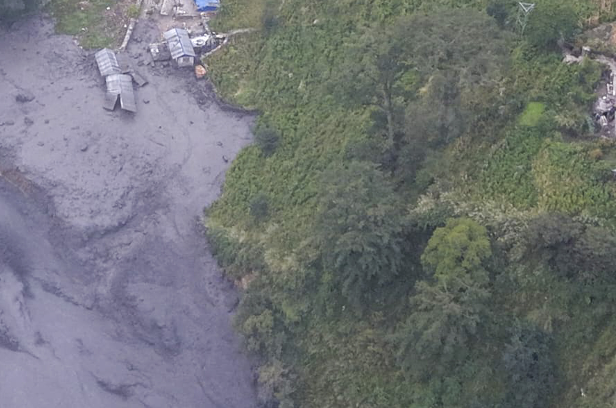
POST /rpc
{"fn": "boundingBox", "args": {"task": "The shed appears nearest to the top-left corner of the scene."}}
[94,48,124,75]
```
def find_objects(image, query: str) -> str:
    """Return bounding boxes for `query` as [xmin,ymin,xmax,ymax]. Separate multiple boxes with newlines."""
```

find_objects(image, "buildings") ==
[103,75,137,113]
[94,48,124,75]
[189,0,221,16]
[163,28,197,72]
